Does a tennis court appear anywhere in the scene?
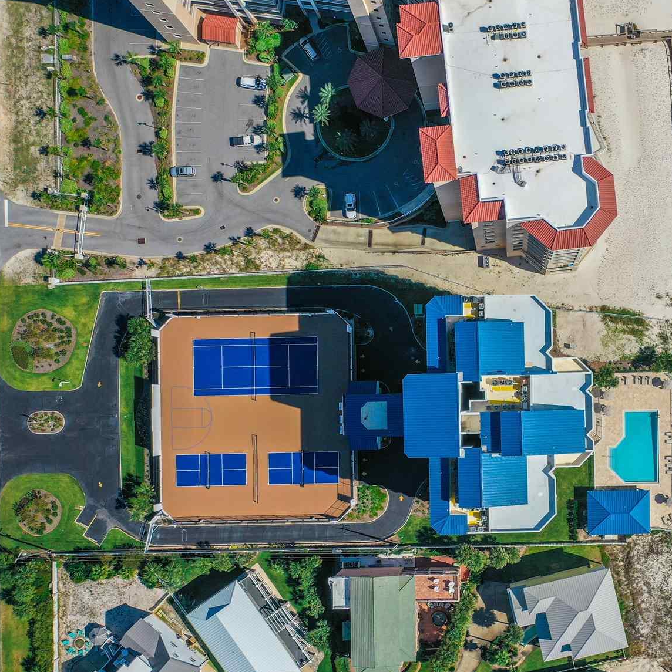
Yes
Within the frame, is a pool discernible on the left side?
No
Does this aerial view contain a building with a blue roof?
Yes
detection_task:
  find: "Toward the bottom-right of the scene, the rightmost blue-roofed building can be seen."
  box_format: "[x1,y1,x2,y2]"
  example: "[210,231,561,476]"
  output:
[586,491,650,539]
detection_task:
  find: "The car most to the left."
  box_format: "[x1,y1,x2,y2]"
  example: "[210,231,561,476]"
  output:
[170,164,196,177]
